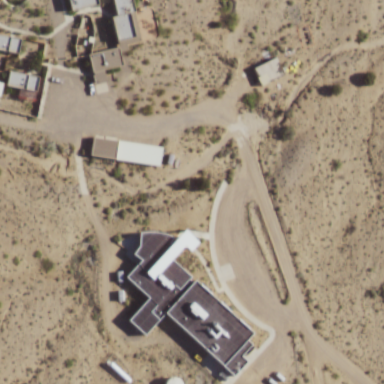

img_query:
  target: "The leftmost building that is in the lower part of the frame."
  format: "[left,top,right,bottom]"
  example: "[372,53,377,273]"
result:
[127,230,196,335]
